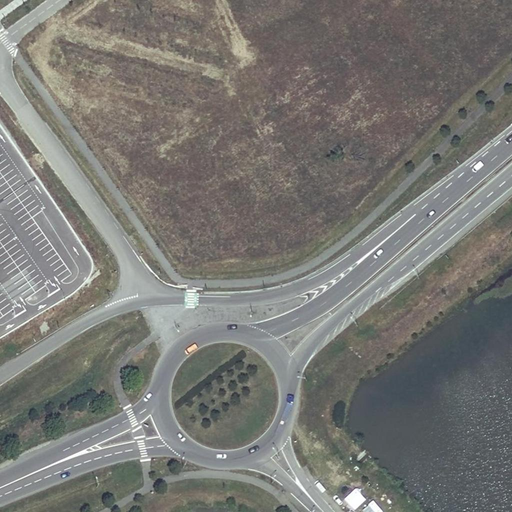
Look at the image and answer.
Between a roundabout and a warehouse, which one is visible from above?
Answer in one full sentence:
This aerial view contains a roundabout.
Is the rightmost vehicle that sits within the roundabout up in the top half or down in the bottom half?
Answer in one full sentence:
The bottom half of the photo is where the rightmost vehicle that sits within the roundabout is.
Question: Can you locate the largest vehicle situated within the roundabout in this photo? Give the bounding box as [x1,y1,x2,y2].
[277,395,296,426]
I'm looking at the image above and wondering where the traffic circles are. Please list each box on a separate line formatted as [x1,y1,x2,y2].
[150,322,303,470]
